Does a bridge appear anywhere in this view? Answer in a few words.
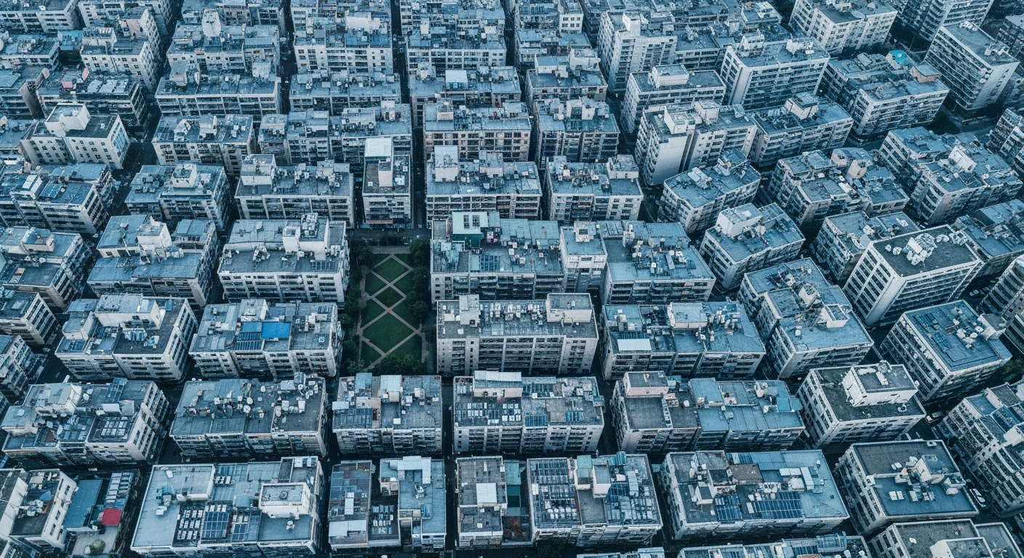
No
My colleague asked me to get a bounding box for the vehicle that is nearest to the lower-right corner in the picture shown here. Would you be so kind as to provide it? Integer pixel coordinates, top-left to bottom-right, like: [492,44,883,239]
[976,499,993,514]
